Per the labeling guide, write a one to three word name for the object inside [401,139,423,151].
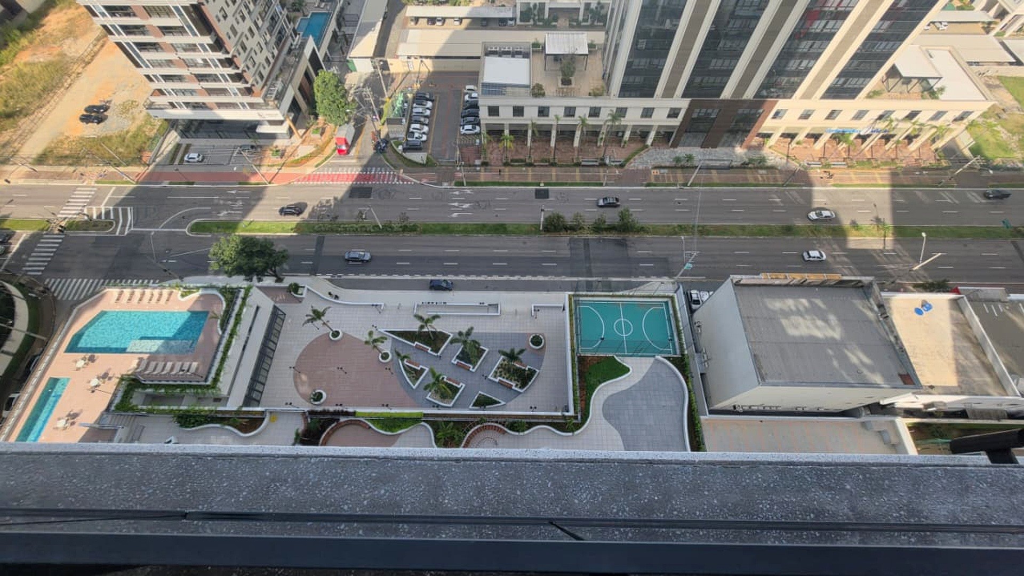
vehicle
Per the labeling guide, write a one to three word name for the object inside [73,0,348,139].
building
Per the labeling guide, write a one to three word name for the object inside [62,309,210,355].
swimming pool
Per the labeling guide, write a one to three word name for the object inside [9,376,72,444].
swimming pool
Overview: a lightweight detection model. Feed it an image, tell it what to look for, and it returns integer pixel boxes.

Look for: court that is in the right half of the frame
[576,301,680,356]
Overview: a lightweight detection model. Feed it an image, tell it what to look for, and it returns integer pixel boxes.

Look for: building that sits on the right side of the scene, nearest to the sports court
[694,270,923,409]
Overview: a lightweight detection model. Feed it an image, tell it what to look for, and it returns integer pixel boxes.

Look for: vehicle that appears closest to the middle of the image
[429,279,453,291]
